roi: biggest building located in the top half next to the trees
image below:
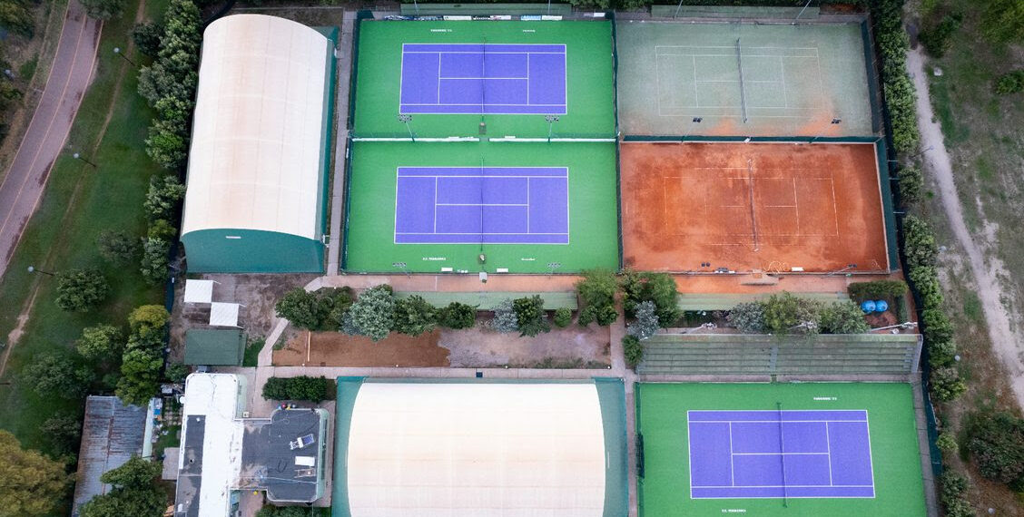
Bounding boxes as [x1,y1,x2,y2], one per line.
[177,12,339,273]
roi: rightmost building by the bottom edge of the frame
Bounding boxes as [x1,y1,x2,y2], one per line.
[327,376,628,517]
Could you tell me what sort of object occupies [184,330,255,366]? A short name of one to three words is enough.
shed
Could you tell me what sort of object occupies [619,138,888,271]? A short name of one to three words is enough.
tennis court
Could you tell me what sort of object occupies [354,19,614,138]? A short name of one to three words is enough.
tennis court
